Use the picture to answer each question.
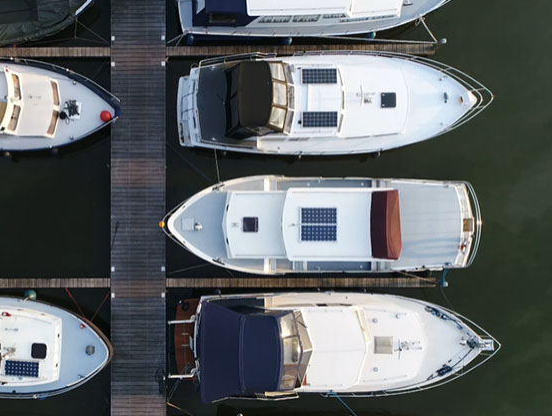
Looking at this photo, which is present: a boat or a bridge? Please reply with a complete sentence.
It is a boat that can be seen here.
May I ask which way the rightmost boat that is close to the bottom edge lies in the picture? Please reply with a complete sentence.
The rightmost boat that is close to the bottom edge is laid out from side to side.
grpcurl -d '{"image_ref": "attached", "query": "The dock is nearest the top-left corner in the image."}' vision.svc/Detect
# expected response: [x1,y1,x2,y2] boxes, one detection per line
[0,47,111,59]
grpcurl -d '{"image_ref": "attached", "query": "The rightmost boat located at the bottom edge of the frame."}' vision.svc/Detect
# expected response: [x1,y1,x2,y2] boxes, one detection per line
[167,290,499,398]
